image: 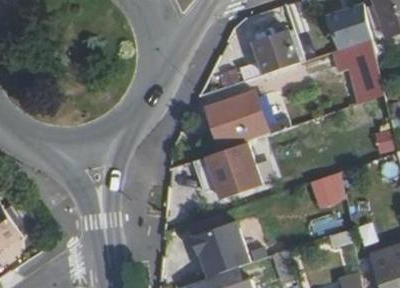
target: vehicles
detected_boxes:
[108,169,120,192]
[146,86,162,108]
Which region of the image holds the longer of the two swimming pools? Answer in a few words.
bottom right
